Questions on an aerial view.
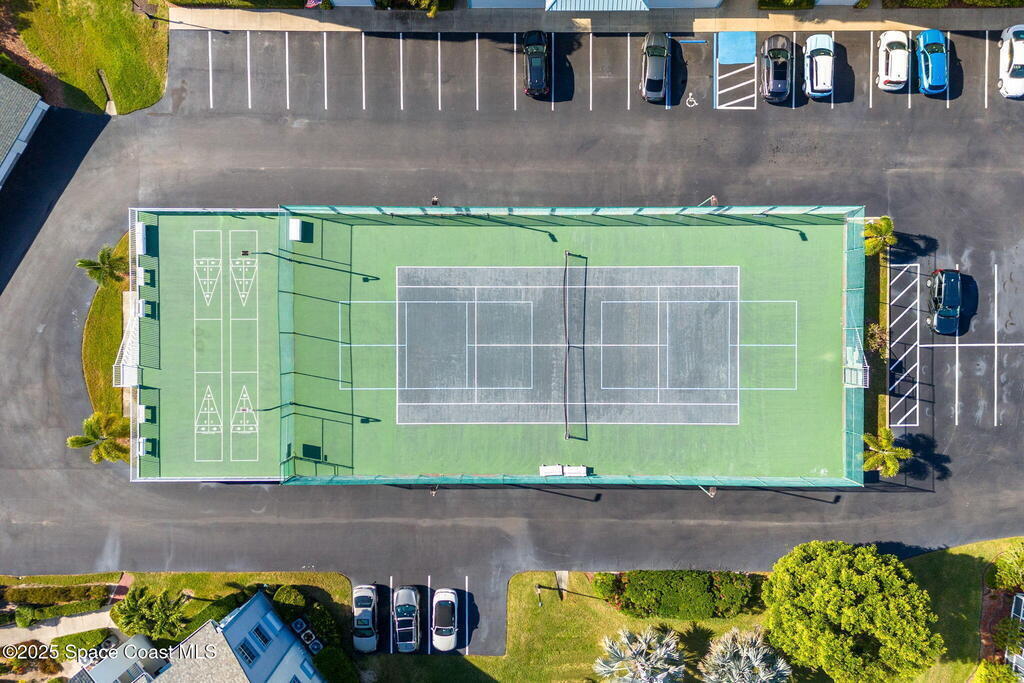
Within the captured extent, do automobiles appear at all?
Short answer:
Yes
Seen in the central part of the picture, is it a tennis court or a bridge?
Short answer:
tennis court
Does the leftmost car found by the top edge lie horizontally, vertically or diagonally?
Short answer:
vertically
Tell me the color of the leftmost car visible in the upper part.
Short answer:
black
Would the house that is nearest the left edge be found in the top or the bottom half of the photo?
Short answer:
top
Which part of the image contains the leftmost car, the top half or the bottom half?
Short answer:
bottom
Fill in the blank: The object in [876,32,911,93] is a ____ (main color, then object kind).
white car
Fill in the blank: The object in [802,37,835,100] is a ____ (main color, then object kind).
white car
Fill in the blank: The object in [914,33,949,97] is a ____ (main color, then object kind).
blue car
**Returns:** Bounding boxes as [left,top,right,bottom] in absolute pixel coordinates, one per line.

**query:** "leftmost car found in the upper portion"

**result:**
[521,32,550,99]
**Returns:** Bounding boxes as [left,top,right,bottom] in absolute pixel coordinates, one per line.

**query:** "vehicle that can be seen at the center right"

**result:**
[926,270,963,335]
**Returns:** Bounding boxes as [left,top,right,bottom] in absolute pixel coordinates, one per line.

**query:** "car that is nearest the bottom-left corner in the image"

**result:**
[350,584,379,651]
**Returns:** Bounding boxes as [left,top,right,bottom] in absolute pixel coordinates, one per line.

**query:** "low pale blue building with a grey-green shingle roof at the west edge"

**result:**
[0,73,48,186]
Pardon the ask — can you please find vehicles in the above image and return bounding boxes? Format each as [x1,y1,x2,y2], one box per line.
[641,34,671,104]
[431,587,459,651]
[350,584,379,651]
[802,37,835,100]
[391,585,421,654]
[876,32,911,93]
[926,270,963,335]
[760,37,793,104]
[914,33,949,97]
[521,32,550,99]
[998,28,1024,98]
